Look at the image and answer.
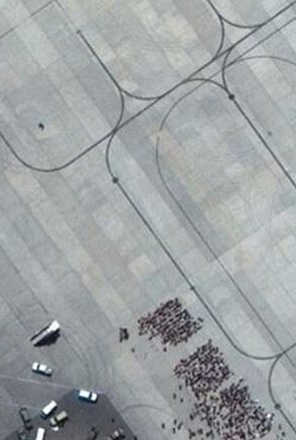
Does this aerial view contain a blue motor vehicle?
No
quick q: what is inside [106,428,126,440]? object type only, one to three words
vehicle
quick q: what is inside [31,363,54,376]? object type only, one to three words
vehicle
